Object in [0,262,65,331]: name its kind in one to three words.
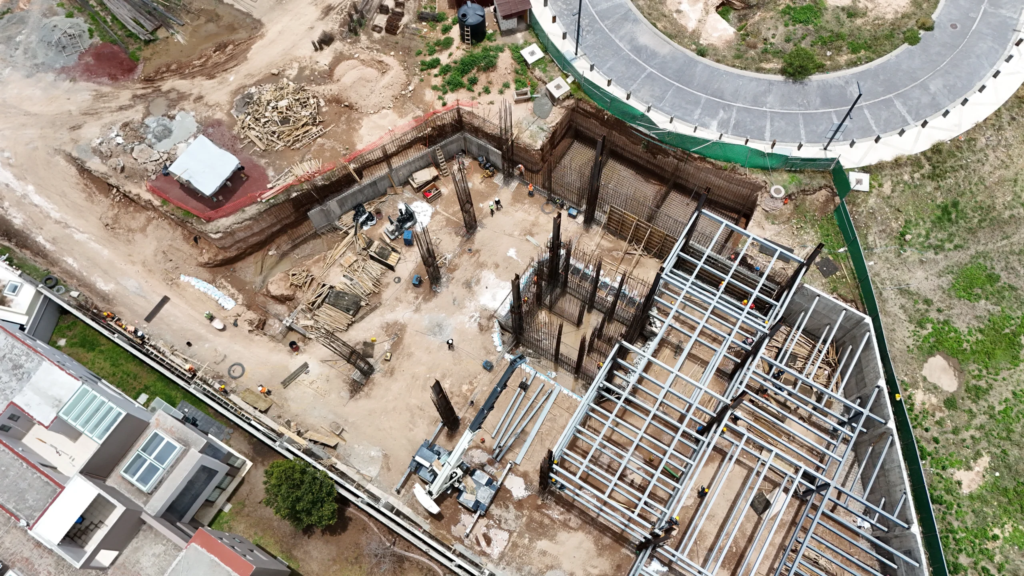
house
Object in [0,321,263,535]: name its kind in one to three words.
house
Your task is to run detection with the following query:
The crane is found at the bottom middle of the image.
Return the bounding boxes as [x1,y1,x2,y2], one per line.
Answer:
[391,347,528,541]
